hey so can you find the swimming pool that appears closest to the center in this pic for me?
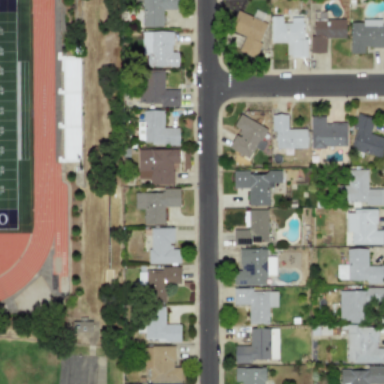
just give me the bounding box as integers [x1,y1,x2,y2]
[282,219,298,242]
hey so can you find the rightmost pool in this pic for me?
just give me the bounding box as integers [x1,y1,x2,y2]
[365,2,384,18]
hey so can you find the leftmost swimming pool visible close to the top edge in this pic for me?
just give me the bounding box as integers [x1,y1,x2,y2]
[325,4,342,18]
